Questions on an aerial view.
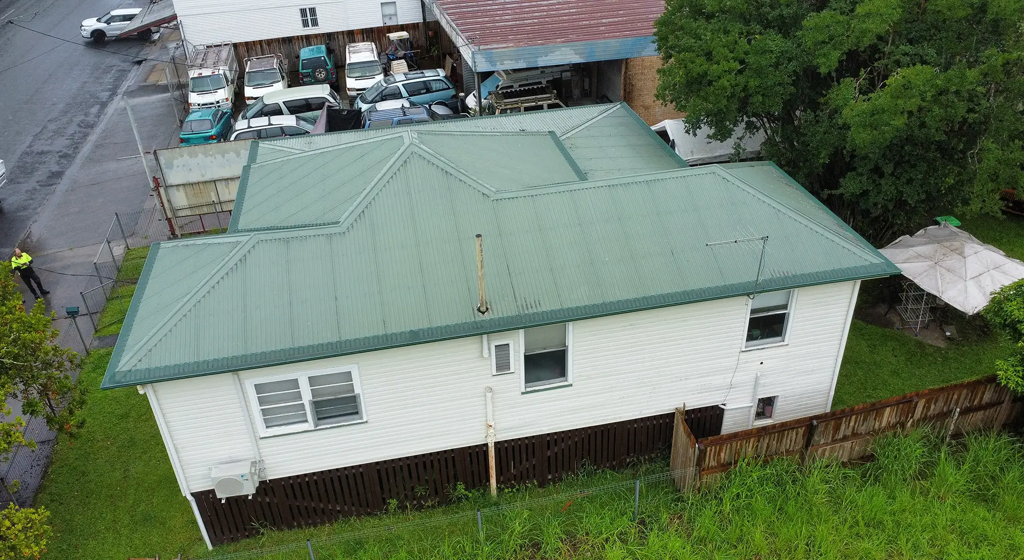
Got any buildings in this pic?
Yes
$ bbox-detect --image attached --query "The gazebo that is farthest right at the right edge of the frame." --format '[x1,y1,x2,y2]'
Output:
[879,218,1024,341]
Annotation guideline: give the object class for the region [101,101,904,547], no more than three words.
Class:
house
